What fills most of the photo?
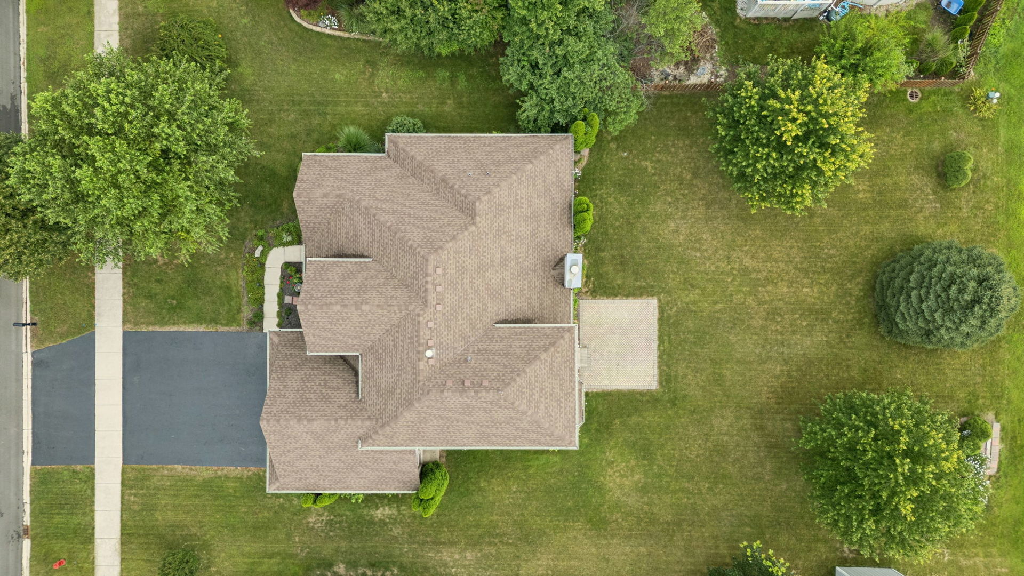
grass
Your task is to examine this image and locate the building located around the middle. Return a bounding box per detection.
[261,133,585,493]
